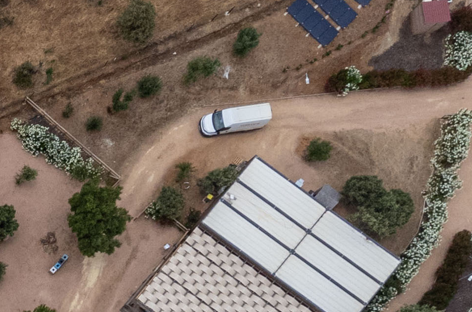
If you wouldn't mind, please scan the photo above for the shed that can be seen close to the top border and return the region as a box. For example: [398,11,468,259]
[408,0,450,39]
